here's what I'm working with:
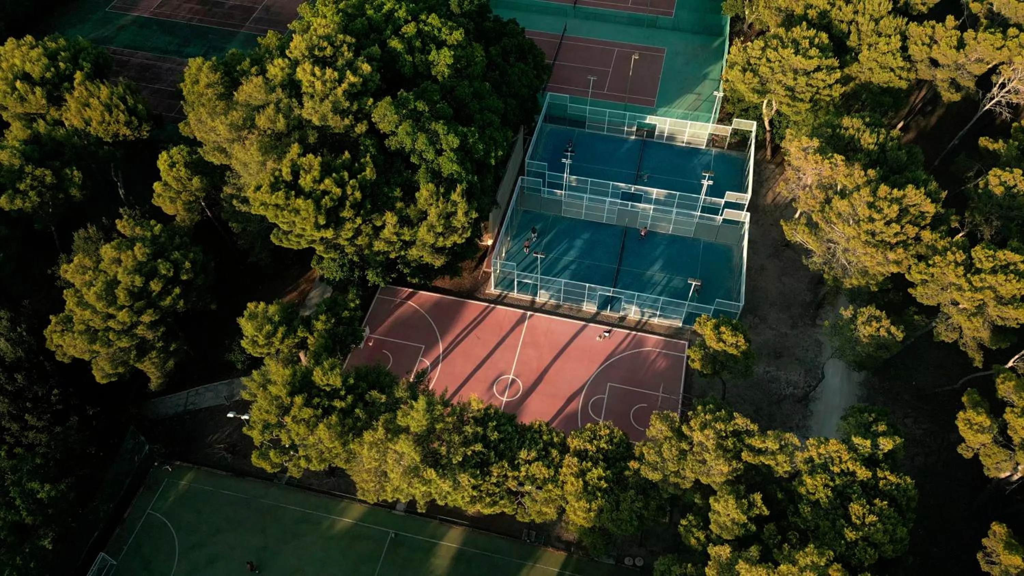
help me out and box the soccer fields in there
[87,460,644,576]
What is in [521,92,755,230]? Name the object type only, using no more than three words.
sports court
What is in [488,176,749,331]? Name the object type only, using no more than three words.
sports court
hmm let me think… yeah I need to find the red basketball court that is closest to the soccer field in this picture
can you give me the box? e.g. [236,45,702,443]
[345,284,689,515]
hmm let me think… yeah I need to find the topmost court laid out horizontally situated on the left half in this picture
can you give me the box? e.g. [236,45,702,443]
[27,0,349,58]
